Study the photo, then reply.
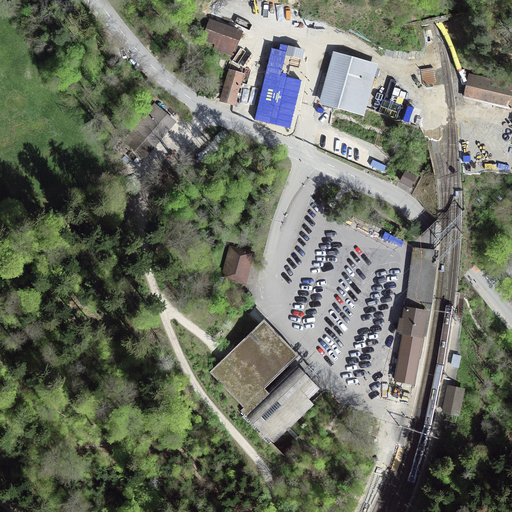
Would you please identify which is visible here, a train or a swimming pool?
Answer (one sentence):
The one in the frame is a train.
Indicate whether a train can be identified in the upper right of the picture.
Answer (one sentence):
Yes, a train is visible in the upper right of the picture.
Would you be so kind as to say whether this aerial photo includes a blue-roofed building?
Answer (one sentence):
Yes, the image includes a blue-roofed building.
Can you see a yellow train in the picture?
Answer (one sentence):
Yes, the picture does show a yellow train.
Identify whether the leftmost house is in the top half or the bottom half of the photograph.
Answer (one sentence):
Seen from above, the leftmost house lies in the top half of the view.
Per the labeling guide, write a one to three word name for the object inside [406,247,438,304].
building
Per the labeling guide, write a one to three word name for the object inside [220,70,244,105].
house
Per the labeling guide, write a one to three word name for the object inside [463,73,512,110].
shed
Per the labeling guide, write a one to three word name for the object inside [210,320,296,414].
building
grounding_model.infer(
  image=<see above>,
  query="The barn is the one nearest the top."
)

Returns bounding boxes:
[205,19,242,56]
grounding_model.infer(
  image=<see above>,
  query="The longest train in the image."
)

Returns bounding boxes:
[408,304,454,482]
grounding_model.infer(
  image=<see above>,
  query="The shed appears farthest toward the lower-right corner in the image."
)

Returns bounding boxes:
[443,386,464,416]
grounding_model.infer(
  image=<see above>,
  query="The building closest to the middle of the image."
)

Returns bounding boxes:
[222,244,252,284]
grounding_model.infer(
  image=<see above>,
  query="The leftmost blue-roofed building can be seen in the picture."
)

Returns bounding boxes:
[256,44,304,128]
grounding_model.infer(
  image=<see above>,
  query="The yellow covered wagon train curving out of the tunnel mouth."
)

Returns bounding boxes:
[437,22,467,85]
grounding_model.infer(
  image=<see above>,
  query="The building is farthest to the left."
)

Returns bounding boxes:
[124,104,176,158]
